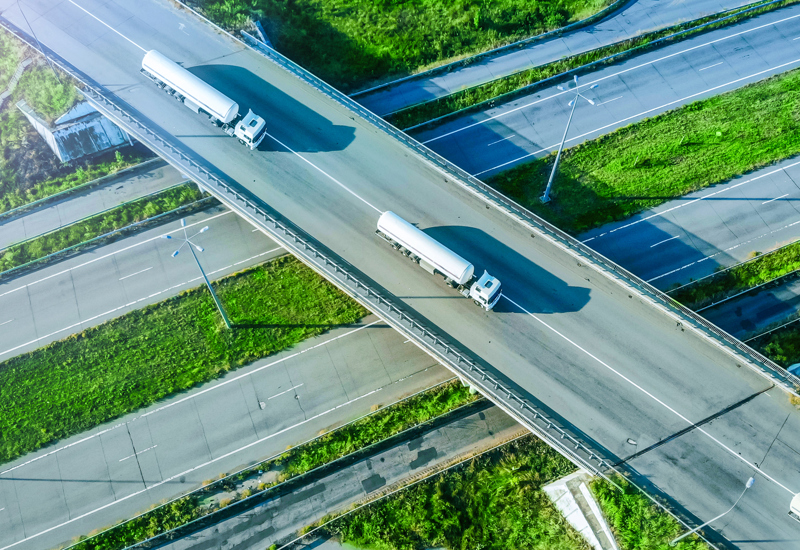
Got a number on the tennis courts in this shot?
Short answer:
0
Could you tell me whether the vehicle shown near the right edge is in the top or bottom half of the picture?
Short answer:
bottom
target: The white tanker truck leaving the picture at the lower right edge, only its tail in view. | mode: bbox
[780,486,800,519]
